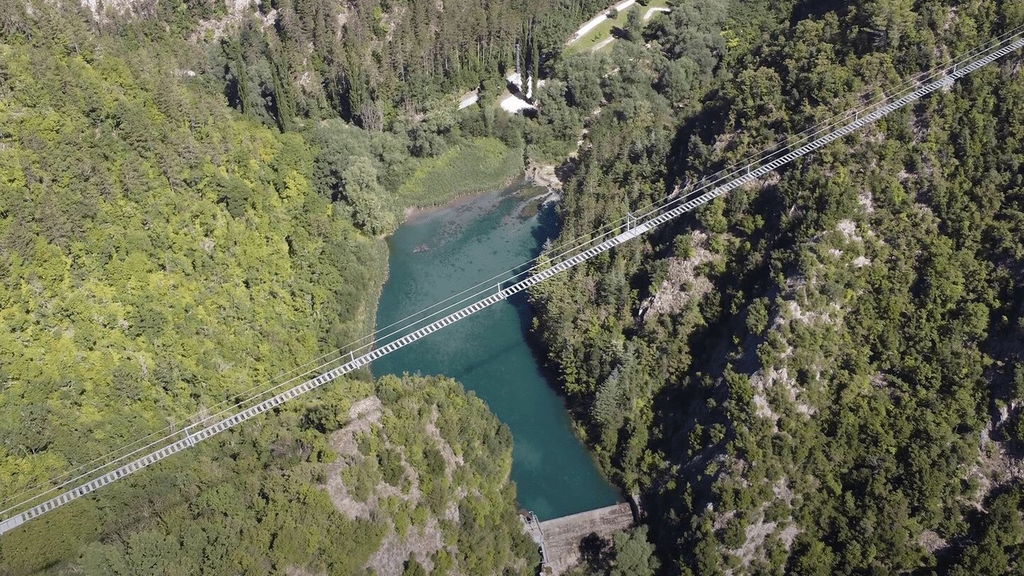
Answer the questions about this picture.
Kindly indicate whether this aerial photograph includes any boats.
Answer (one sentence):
No, this view has no boat in it.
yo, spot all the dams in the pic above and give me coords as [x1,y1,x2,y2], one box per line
[524,502,634,576]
